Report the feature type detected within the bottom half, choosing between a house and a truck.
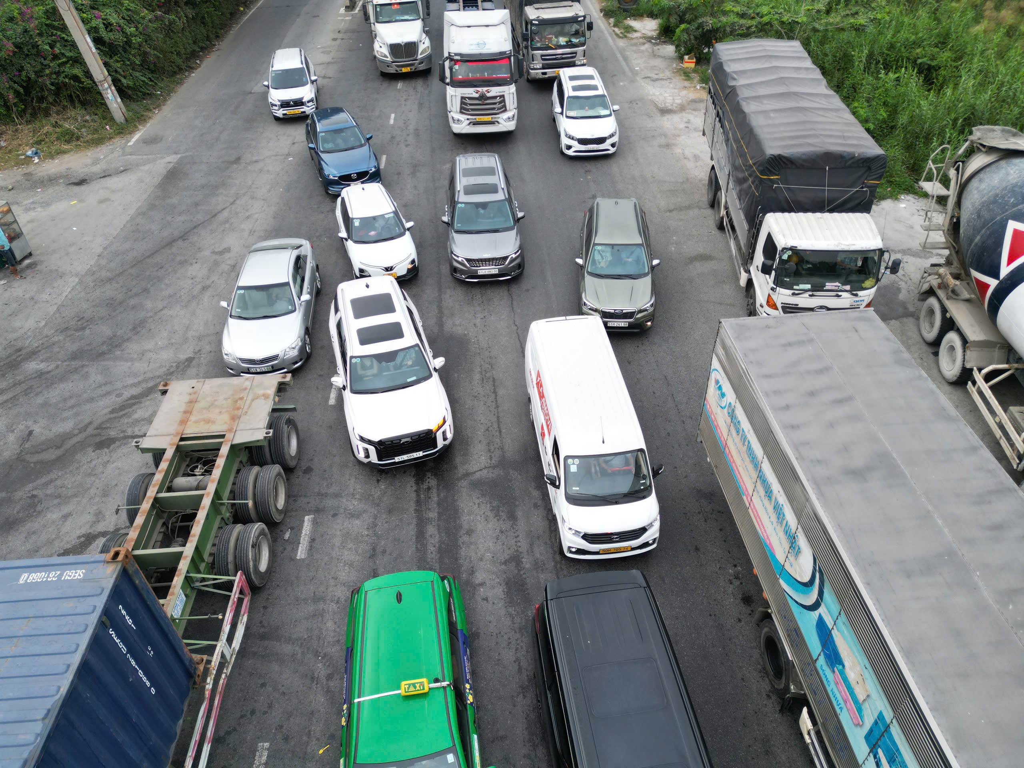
truck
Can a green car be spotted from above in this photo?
Yes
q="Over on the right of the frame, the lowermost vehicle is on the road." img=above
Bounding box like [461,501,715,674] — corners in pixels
[529,572,719,768]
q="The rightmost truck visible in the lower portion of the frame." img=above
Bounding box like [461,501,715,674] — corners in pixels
[692,308,1024,768]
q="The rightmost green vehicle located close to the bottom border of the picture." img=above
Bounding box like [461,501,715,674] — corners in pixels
[338,573,482,768]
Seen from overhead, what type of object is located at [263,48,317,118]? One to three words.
car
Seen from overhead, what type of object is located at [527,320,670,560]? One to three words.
van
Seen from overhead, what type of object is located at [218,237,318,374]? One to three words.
car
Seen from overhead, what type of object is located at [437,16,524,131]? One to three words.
truck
